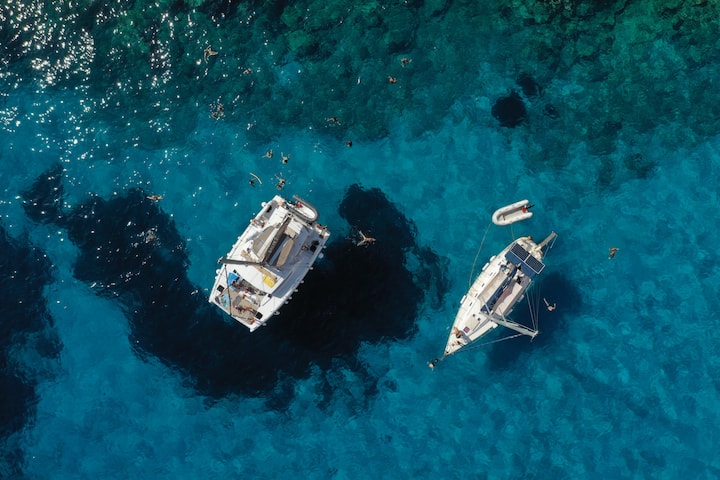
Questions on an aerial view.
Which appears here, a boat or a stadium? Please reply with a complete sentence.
The one in the frame is a boat.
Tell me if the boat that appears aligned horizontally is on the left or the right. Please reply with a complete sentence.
The boat that appears aligned horizontally appears in the right half of the scene.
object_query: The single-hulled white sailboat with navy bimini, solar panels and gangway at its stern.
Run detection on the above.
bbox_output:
[437,231,562,363]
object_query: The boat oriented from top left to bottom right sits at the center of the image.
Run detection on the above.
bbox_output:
[286,197,318,223]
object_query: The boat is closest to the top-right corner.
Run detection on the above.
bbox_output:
[494,197,536,223]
